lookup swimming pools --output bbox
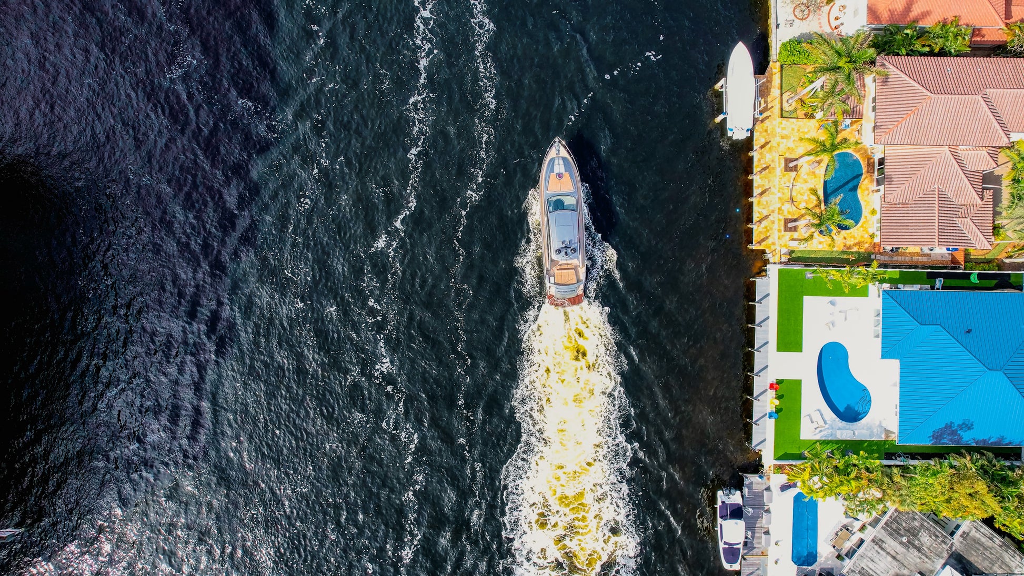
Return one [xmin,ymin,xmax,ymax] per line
[789,489,821,570]
[817,149,865,238]
[814,339,874,426]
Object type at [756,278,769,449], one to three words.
pier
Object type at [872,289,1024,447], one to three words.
house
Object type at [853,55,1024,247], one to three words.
house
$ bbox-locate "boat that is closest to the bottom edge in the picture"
[714,485,745,571]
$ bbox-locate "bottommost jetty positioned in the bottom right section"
[741,476,770,576]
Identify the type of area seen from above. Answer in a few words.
residential area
